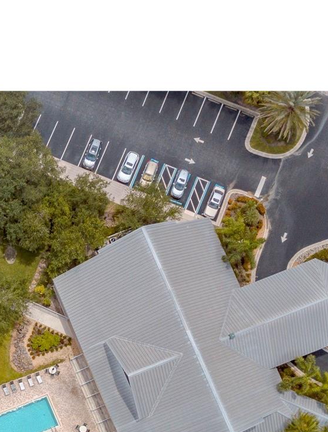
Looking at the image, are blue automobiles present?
No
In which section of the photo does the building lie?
bottom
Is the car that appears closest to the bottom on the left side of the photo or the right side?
right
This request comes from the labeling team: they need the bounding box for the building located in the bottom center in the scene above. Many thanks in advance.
[53,219,328,432]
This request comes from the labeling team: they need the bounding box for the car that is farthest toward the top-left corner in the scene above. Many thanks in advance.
[83,137,102,170]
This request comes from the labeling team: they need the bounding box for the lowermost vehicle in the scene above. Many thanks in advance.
[203,184,226,220]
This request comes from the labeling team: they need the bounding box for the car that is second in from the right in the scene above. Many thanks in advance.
[170,167,190,200]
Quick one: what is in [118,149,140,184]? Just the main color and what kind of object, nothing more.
white car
